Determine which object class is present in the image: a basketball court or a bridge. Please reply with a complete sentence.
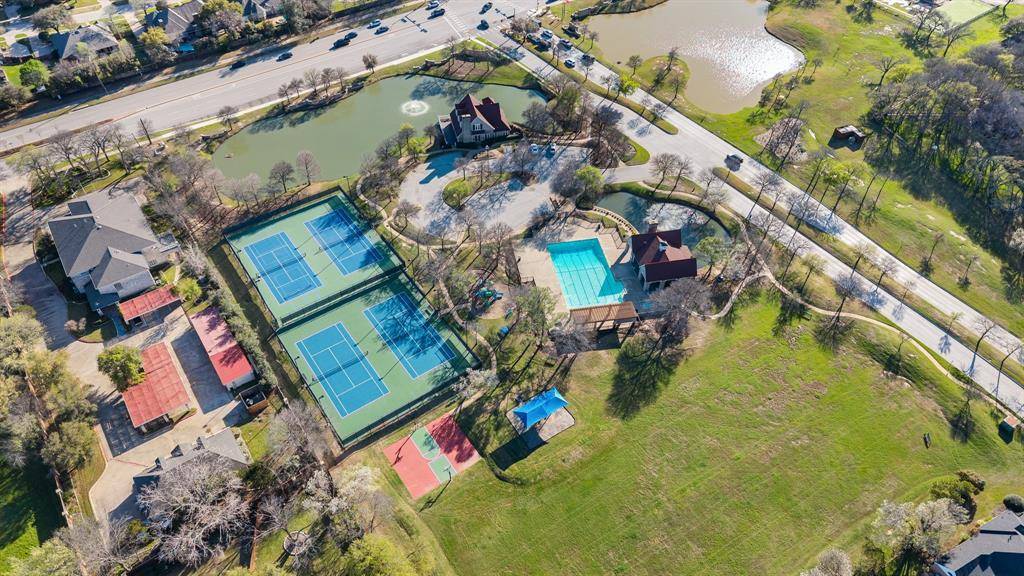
This aerial view contains a basketball court.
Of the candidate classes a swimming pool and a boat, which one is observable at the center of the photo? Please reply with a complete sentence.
Looking at the center of the photo, you will find a swimming pool.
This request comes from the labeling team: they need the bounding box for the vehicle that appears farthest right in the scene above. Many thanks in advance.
[726,151,745,165]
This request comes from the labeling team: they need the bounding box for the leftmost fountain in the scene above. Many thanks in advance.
[399,98,432,118]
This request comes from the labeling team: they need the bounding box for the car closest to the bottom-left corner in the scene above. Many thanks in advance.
[131,316,143,328]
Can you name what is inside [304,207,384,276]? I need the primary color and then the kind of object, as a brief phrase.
blue tennis court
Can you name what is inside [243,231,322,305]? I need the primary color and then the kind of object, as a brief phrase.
blue tennis court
